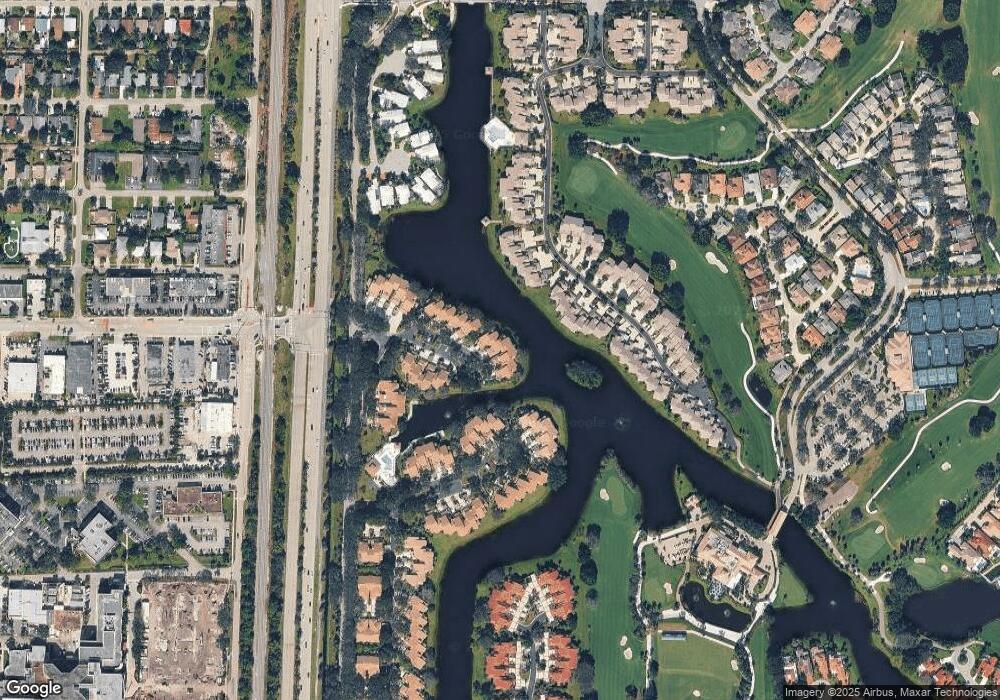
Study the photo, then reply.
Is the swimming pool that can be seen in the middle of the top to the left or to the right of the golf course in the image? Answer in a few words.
left of it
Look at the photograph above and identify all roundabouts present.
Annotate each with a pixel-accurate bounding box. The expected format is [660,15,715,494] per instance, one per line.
[951,647,985,700]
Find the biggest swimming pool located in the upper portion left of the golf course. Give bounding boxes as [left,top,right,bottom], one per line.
[483,117,514,149]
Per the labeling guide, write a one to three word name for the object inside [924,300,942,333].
tennis court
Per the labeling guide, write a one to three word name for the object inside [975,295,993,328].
tennis court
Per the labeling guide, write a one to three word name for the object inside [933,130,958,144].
house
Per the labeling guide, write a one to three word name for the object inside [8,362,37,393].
building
